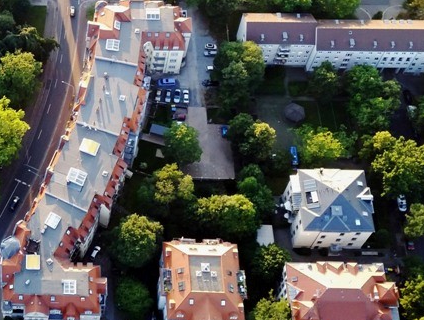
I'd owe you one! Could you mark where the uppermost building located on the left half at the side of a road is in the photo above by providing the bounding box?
[78,0,195,92]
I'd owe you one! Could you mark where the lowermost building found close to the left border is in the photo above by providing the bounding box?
[0,235,104,320]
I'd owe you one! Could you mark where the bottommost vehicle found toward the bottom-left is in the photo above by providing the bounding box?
[90,243,102,260]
